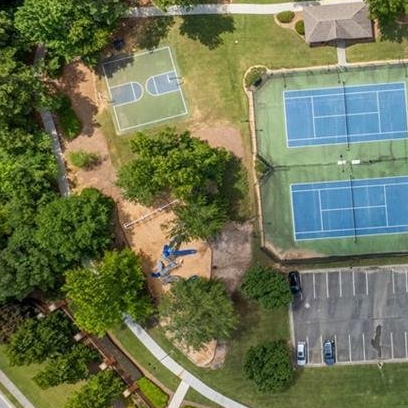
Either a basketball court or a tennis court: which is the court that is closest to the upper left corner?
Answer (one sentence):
It looks like the court that is closest to the upper left corner is a basketball court.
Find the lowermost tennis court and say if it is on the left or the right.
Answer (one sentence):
The lowermost tennis court appears in the right half of the scene.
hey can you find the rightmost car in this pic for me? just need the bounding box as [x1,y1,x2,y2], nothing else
[323,339,335,364]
